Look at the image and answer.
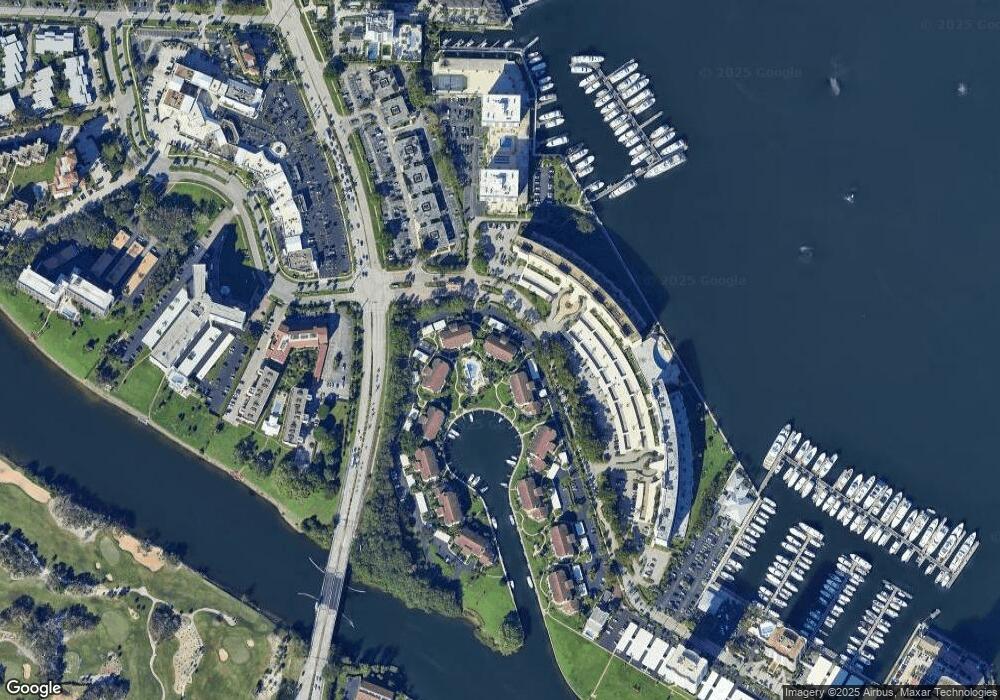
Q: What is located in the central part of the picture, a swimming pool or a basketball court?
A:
swimming pool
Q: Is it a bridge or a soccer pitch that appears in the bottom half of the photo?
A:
bridge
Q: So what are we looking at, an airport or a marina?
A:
marina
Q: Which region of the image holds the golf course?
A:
bottom left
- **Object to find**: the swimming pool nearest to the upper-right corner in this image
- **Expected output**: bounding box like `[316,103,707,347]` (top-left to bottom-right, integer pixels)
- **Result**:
[657,336,672,361]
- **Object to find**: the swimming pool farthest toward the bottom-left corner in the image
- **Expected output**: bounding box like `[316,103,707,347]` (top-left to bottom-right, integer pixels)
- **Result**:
[168,366,189,396]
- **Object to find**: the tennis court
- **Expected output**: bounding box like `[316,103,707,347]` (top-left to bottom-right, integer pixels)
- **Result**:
[431,74,467,92]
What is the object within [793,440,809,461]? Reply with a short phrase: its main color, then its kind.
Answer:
white boat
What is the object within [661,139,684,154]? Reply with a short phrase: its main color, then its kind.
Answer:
white boat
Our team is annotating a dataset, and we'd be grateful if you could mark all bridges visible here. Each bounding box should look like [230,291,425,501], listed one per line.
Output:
[297,528,365,679]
